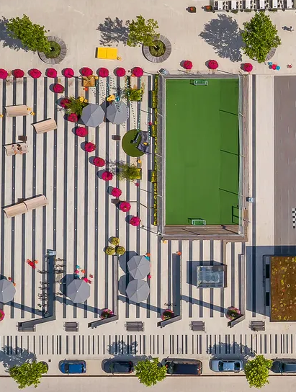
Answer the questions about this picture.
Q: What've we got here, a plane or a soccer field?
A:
soccer field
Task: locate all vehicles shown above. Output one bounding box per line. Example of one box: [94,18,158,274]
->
[164,359,202,377]
[272,359,296,376]
[211,359,244,376]
[102,359,135,376]
[59,361,87,376]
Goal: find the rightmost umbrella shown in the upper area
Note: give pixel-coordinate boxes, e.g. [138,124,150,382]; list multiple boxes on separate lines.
[107,101,130,124]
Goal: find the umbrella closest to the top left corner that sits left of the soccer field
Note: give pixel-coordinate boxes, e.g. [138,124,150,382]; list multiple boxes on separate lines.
[82,105,106,127]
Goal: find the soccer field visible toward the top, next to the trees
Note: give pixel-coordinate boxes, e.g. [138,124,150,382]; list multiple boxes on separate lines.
[153,69,248,240]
